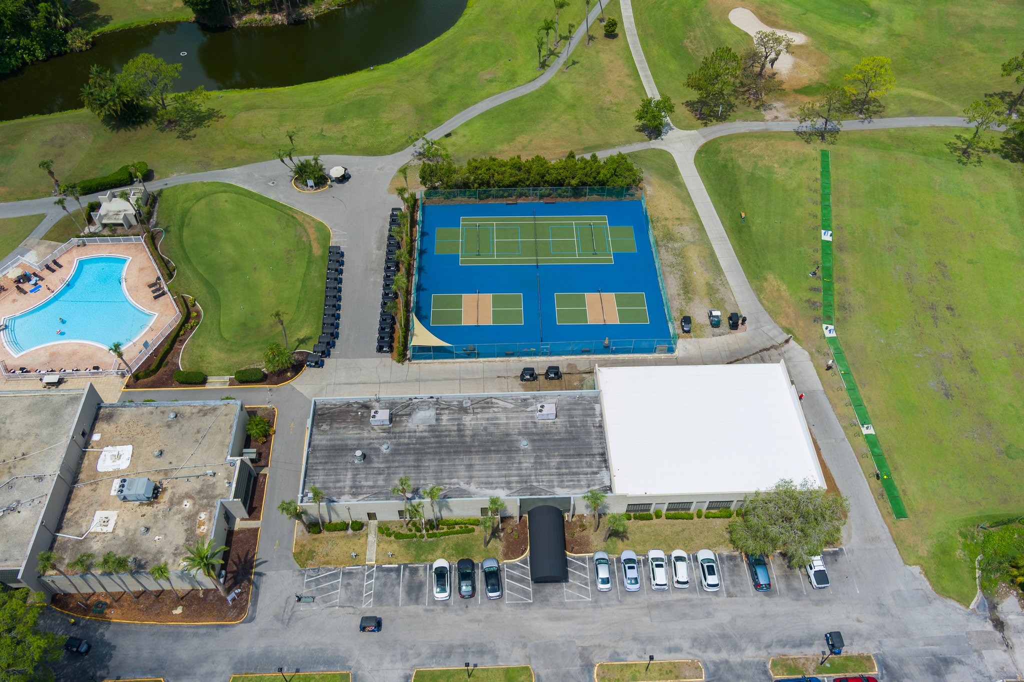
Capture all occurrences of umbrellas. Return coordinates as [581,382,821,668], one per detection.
[328,164,345,175]
[6,267,24,282]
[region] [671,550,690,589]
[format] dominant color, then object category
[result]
white car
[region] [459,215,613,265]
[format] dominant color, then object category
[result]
green tennis court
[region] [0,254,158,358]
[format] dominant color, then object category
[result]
blue swimming pool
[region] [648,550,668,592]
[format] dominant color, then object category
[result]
white car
